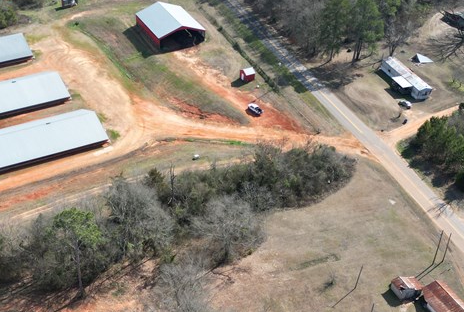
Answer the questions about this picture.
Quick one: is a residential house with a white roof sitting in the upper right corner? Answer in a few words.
Yes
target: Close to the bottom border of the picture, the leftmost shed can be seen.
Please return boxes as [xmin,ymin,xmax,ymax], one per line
[390,271,427,299]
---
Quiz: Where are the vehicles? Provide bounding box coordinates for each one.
[246,105,262,115]
[398,101,413,109]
